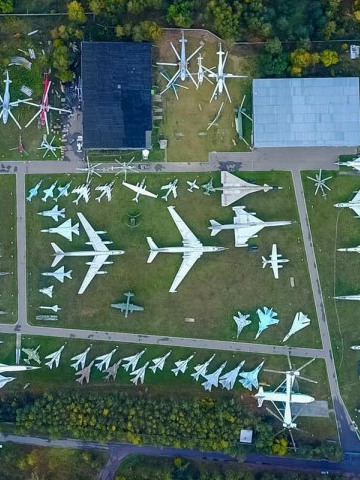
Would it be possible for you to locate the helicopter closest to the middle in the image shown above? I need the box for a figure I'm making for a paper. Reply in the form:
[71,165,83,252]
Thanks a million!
[110,158,139,181]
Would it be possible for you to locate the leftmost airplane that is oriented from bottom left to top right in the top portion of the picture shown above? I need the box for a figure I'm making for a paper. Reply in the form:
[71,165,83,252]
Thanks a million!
[25,181,43,203]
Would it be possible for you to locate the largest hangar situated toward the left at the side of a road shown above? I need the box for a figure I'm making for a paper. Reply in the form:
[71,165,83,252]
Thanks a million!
[81,42,152,150]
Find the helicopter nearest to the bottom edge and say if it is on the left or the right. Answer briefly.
right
